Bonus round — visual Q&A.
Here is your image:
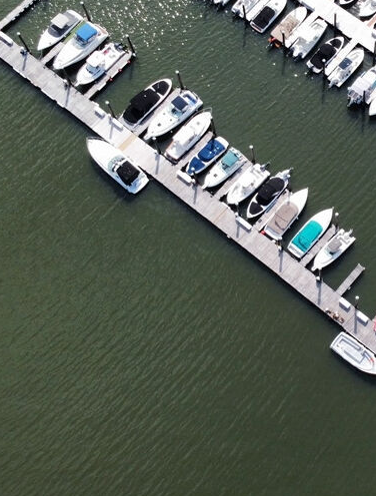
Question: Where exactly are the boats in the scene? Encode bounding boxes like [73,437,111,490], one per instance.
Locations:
[308,35,343,74]
[260,187,308,241]
[138,92,206,148]
[331,333,376,374]
[48,22,111,76]
[220,164,271,203]
[309,230,355,273]
[355,0,376,16]
[271,5,307,44]
[250,0,287,35]
[121,78,171,130]
[33,11,84,51]
[86,136,155,199]
[244,174,287,218]
[290,18,328,59]
[284,209,332,263]
[182,135,232,174]
[66,44,126,90]
[161,112,211,169]
[327,44,363,89]
[351,65,376,101]
[197,149,247,195]
[232,0,261,19]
